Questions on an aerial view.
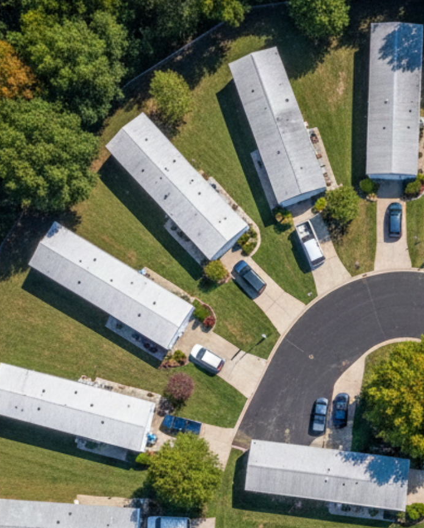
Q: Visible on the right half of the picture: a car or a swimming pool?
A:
car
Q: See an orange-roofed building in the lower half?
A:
No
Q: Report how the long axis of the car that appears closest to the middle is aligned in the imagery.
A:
at an angle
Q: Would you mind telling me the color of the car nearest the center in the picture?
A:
blue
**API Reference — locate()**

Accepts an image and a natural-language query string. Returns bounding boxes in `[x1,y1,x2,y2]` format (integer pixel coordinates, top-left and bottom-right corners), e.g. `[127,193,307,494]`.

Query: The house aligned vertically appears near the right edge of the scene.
[365,21,423,182]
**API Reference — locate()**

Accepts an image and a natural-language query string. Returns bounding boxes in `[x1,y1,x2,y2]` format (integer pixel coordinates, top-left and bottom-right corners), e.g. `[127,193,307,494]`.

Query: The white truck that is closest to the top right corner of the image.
[296,221,324,268]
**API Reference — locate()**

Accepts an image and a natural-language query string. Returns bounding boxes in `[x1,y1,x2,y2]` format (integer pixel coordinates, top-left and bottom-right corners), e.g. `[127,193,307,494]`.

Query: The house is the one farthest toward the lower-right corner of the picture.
[245,439,411,512]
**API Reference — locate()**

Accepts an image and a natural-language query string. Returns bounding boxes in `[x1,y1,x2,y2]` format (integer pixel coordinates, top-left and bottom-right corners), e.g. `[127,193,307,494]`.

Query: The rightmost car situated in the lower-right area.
[334,394,349,428]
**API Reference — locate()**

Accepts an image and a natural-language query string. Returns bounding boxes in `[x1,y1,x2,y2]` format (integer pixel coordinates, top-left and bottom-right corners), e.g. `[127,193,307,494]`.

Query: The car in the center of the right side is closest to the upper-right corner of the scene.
[388,204,403,240]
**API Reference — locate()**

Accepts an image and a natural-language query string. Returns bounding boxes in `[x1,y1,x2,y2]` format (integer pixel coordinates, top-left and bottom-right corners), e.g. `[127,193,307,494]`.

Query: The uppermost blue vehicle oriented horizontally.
[163,415,203,436]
